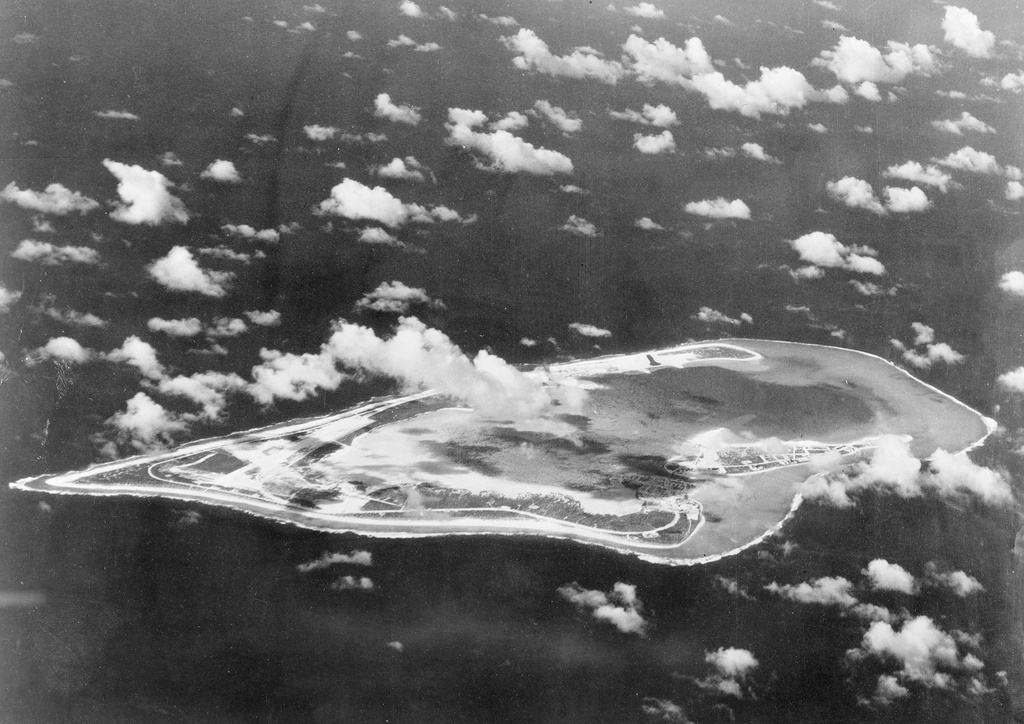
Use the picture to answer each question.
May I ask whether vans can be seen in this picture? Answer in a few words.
No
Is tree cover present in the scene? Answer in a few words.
No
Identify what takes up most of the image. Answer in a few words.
water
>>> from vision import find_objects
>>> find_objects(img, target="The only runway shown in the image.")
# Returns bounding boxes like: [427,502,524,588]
[217,417,375,487]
